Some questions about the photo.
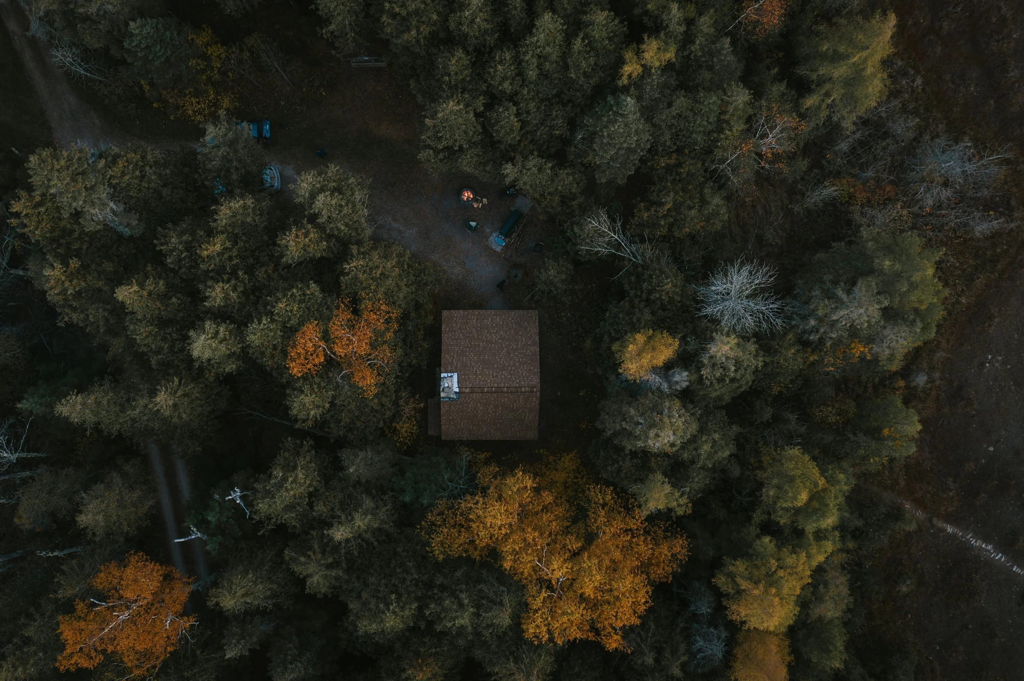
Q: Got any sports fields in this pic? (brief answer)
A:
No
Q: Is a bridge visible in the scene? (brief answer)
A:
No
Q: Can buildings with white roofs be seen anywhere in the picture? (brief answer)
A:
No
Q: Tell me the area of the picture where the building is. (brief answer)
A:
center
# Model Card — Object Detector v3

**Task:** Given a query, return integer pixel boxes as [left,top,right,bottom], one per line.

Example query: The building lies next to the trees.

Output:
[428,310,539,441]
